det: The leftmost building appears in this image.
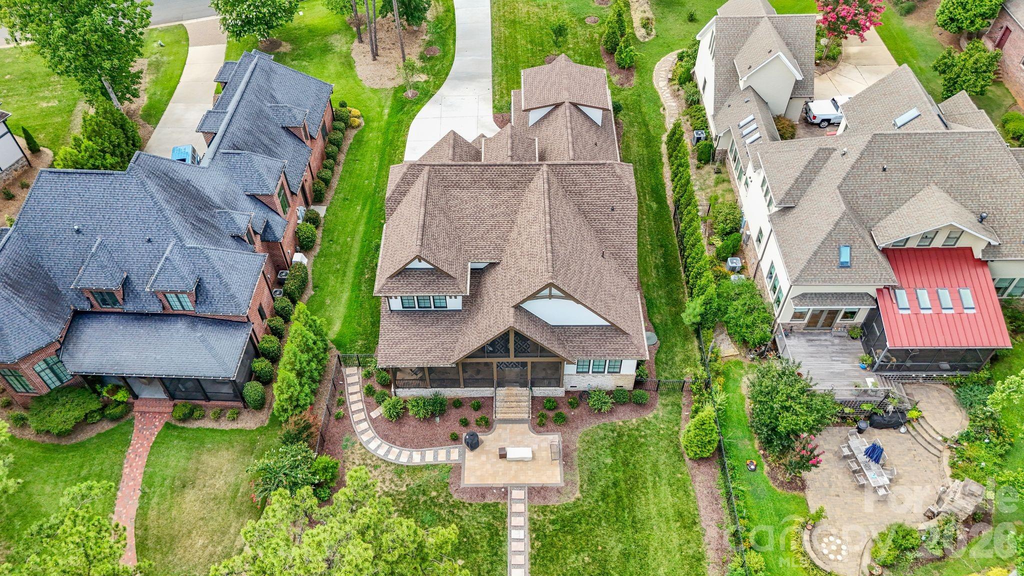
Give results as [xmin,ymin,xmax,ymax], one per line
[0,110,33,181]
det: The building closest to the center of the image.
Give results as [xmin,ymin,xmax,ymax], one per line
[371,52,651,398]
